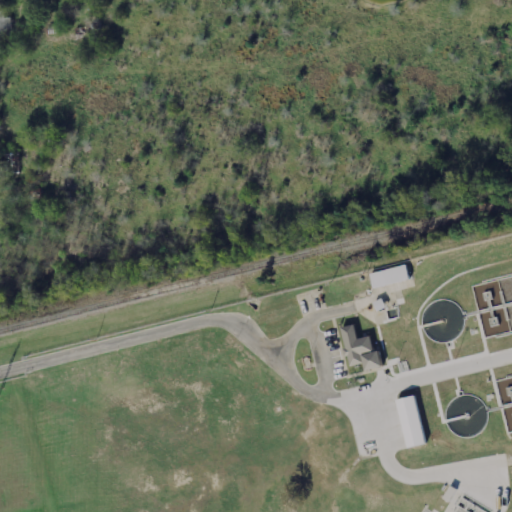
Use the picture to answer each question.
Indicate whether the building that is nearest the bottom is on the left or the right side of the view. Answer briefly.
right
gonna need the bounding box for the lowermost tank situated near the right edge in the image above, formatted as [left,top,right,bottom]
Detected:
[446,396,489,438]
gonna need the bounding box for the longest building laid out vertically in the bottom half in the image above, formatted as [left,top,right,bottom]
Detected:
[396,396,426,449]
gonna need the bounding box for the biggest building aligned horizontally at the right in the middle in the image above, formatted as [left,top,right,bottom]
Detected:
[370,265,410,288]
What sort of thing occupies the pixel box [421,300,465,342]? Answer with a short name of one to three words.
storage tank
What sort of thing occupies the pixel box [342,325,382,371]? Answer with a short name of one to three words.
building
